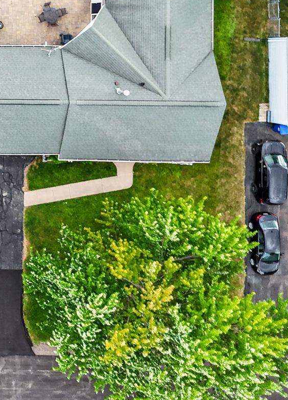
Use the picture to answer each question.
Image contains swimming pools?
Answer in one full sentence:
No, the photo shows no swimming pool.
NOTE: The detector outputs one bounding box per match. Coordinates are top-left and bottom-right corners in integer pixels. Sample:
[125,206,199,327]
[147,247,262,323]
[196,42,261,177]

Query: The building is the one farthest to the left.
[0,0,225,163]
